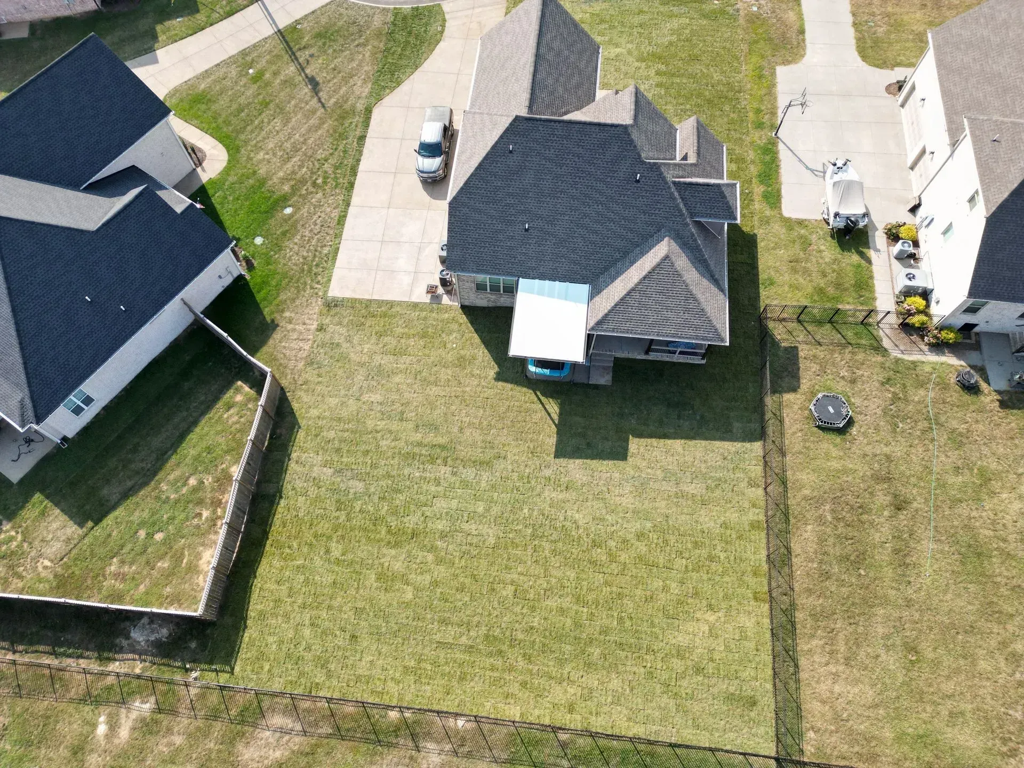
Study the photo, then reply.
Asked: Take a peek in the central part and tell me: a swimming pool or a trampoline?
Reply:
trampoline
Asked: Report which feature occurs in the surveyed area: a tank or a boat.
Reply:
boat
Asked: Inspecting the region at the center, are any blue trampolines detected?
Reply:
Yes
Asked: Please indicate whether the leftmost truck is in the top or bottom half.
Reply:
top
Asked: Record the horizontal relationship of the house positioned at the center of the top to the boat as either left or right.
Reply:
to the left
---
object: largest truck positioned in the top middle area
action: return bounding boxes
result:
[415,109,454,181]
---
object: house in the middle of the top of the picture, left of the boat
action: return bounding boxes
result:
[445,0,743,385]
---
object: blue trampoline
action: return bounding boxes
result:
[533,361,570,380]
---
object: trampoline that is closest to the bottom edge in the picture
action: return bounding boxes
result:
[806,393,852,432]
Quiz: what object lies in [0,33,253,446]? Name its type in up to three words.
house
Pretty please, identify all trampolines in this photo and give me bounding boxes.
[533,361,570,380]
[806,393,852,432]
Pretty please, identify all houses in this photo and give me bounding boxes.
[445,0,743,385]
[0,33,253,446]
[0,0,98,23]
[894,0,1024,333]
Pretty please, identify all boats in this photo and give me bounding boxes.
[832,162,874,254]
